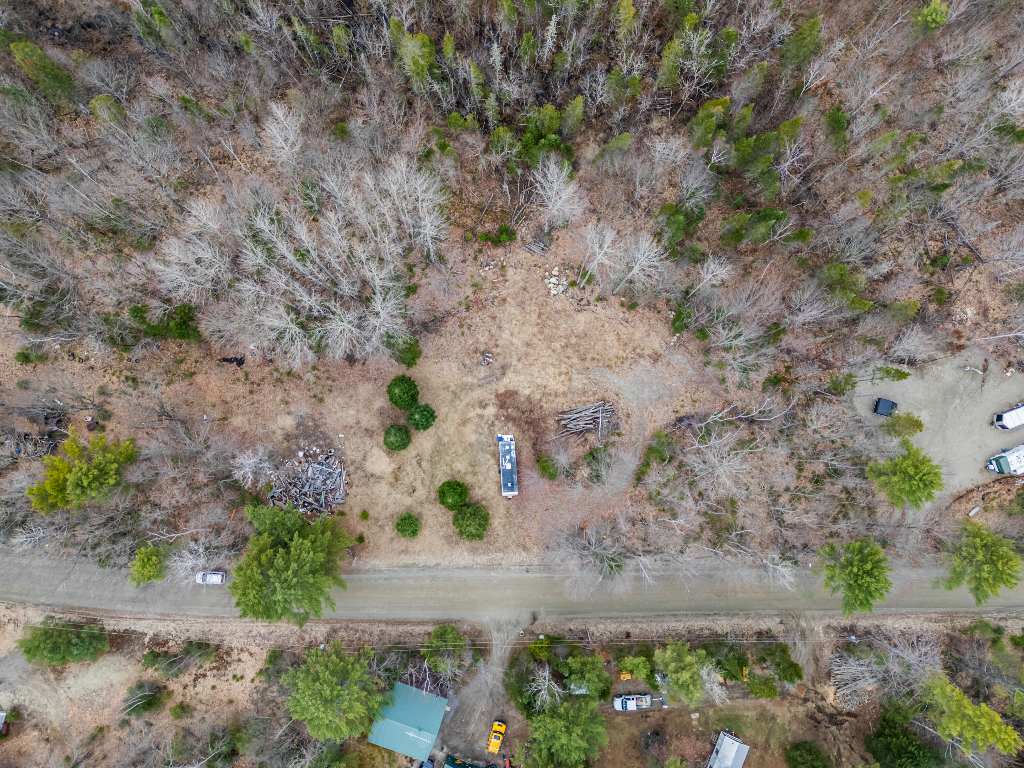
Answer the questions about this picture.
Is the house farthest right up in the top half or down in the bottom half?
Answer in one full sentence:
It is in the bottom half that the house farthest right appears.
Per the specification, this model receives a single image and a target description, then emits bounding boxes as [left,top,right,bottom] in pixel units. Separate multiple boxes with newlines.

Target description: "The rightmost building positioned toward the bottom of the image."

[705,732,750,768]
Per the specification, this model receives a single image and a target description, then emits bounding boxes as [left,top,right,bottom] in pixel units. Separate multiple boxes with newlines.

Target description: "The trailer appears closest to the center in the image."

[499,428,518,496]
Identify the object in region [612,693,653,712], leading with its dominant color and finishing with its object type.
white vehicle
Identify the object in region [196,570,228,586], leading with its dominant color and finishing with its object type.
white car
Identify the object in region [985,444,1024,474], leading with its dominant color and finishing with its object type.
white camper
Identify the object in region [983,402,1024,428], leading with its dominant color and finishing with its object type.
white trailer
